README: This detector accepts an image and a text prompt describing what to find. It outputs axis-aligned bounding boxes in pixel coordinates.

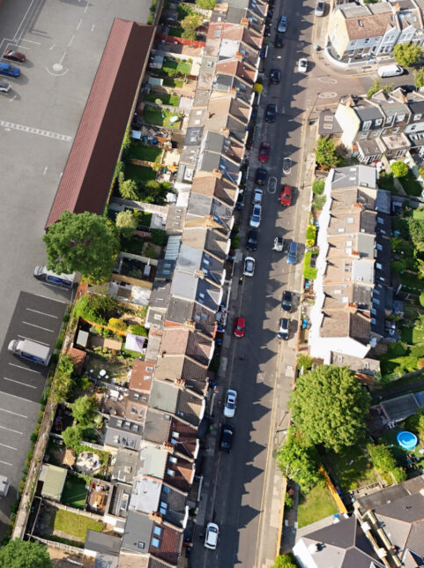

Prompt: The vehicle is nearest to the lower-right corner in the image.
[204,522,220,551]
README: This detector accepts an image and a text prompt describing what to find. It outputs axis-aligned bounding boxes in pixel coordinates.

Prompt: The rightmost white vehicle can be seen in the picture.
[376,64,402,78]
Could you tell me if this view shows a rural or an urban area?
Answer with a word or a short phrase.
urban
